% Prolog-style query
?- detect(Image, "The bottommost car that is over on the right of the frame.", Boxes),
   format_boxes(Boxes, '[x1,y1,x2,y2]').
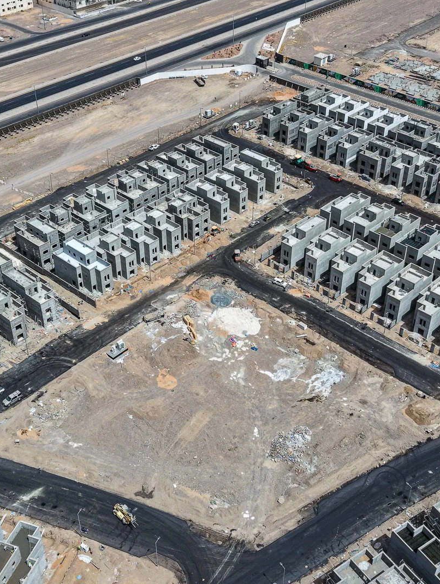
[271,275,288,287]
